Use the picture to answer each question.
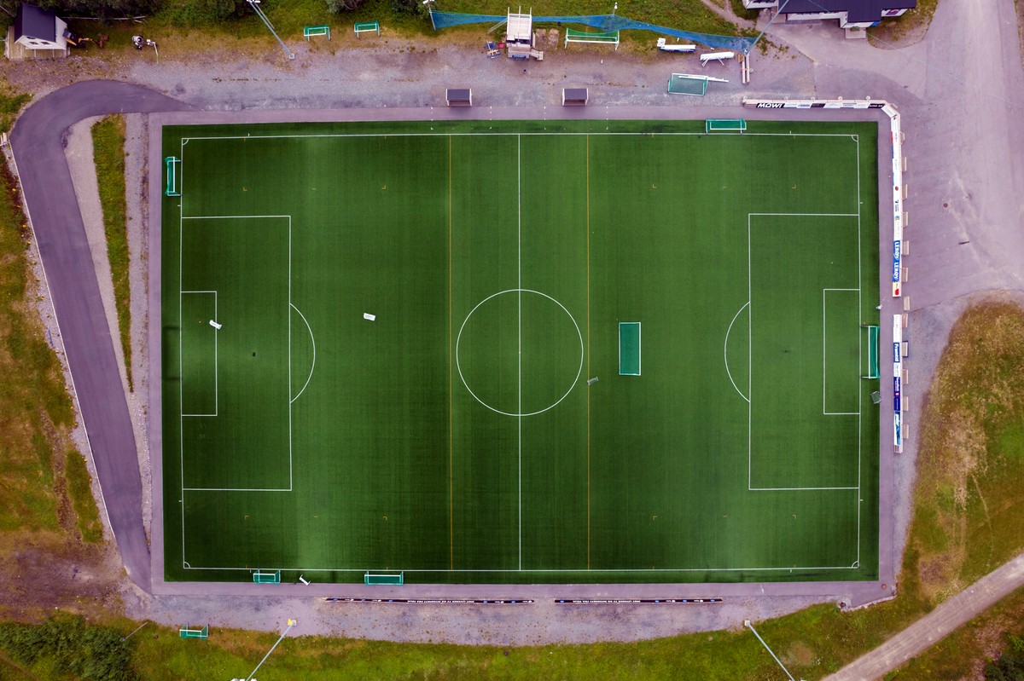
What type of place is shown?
sports ground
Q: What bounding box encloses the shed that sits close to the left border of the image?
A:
[7,4,70,58]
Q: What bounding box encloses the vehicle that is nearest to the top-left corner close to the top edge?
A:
[62,29,99,48]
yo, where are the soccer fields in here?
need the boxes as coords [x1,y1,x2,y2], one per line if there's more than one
[162,112,880,585]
